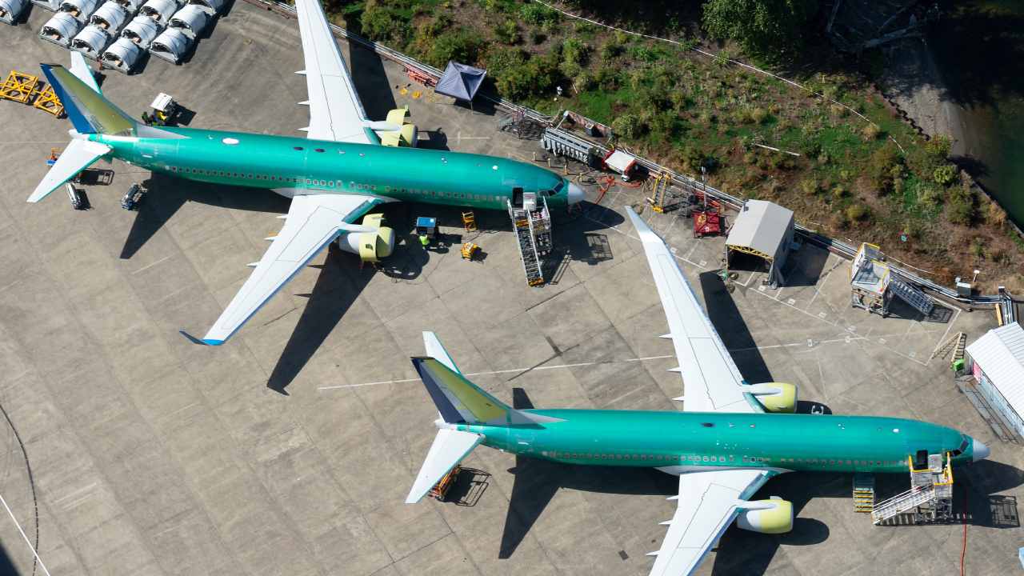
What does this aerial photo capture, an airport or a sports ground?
airport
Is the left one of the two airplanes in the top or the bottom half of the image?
top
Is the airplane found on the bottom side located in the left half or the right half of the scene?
right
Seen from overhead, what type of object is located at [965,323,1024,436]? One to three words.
building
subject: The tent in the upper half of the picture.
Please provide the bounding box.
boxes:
[434,61,489,119]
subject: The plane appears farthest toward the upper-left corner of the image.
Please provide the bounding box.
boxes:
[28,0,584,349]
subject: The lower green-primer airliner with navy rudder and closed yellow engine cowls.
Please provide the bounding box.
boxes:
[406,206,990,576]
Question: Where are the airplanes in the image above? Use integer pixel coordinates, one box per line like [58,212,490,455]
[28,0,584,349]
[406,206,990,576]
